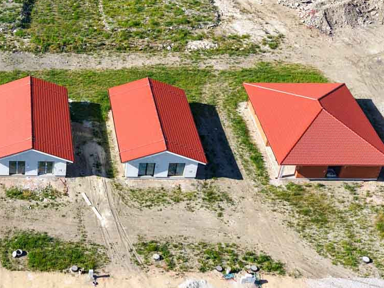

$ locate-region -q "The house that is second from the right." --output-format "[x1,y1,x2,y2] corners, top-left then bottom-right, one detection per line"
[108,75,207,178]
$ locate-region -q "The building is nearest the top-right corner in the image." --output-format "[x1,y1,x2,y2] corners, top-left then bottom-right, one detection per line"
[243,82,384,179]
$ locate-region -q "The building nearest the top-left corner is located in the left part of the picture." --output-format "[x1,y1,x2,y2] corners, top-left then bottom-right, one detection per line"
[0,75,74,177]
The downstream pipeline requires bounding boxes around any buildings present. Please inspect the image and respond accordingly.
[243,82,384,179]
[0,75,74,177]
[108,75,207,178]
